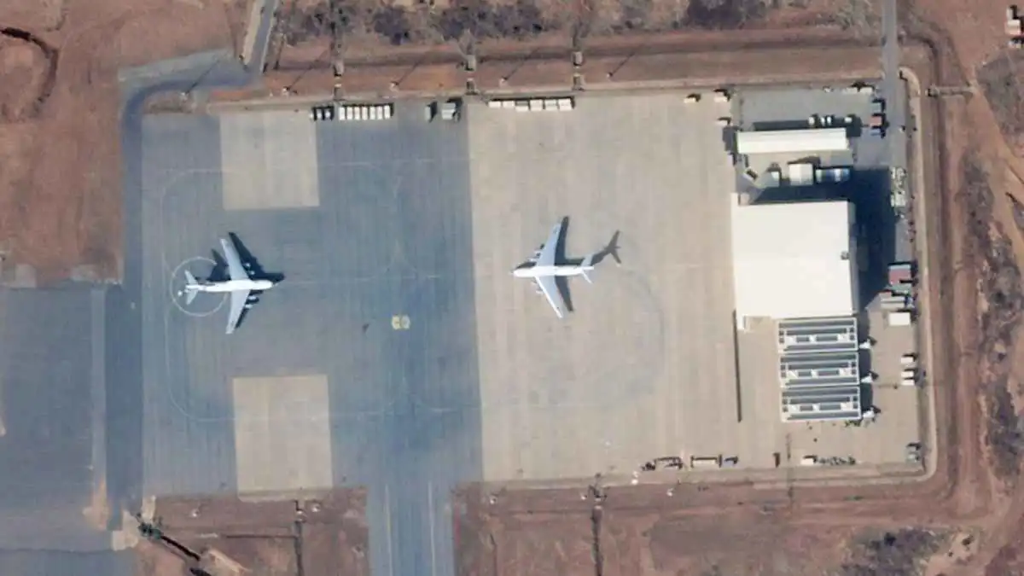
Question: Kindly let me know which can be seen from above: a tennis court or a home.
home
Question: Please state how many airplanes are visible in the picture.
2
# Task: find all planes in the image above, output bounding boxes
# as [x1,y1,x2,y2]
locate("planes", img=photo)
[184,237,278,333]
[511,225,595,318]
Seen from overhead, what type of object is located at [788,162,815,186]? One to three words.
house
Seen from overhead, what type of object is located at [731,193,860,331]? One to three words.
hangar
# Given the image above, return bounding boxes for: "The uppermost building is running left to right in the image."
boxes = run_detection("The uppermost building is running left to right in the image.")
[737,127,851,154]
